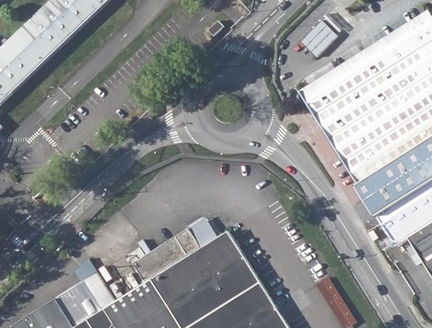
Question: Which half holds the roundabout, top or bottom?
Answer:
top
